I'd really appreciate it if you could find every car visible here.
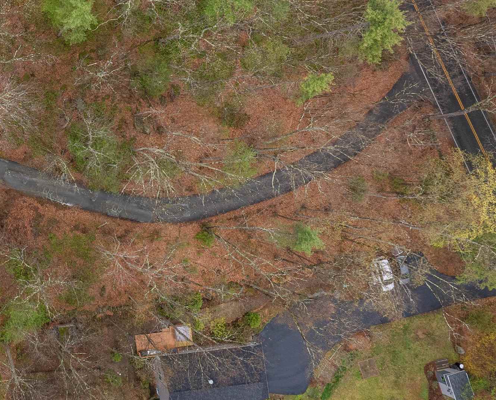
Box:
[392,255,410,284]
[370,256,393,290]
